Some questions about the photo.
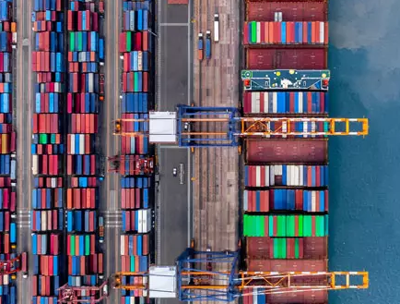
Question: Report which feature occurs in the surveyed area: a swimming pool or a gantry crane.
gantry crane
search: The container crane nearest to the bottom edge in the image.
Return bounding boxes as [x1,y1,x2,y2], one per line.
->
[62,277,112,302]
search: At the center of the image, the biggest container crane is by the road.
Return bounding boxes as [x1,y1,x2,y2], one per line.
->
[115,102,369,151]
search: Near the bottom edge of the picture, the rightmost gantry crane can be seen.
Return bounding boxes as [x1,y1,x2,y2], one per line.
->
[115,242,369,301]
